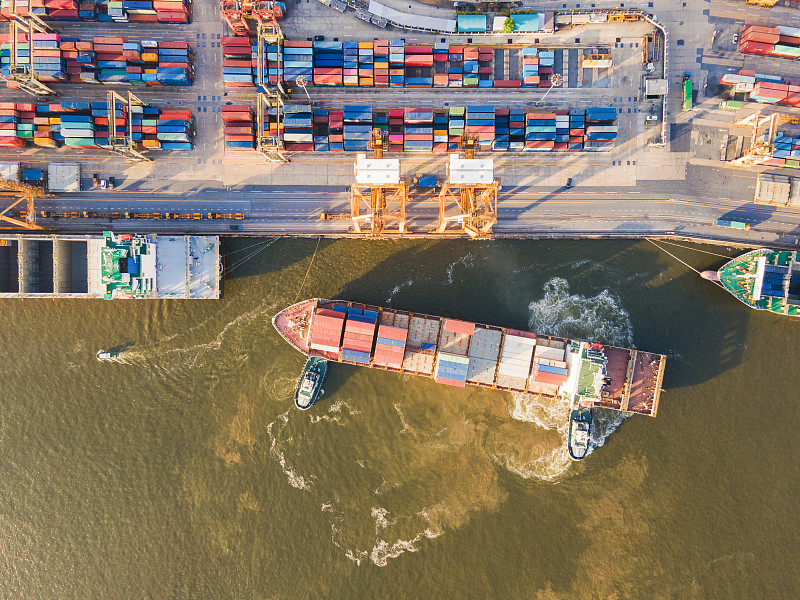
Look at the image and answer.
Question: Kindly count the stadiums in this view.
none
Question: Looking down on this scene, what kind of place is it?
port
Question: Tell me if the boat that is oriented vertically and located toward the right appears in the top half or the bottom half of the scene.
bottom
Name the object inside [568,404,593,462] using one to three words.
boat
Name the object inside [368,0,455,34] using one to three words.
building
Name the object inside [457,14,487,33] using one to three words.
shed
